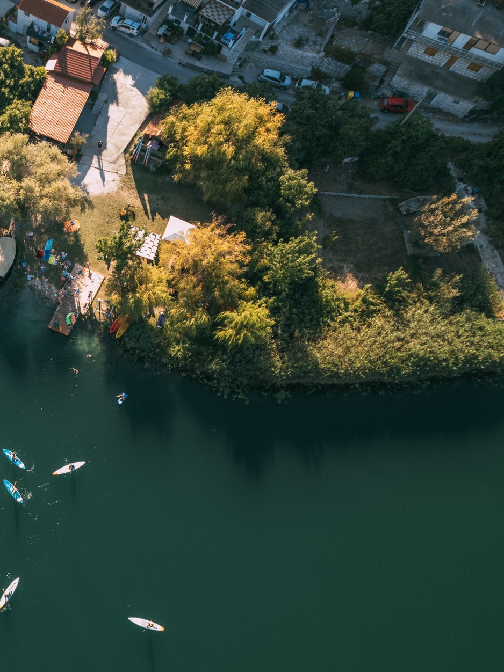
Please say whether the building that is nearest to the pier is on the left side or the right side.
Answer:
left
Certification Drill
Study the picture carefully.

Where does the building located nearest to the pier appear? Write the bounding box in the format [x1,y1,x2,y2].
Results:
[123,227,161,268]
